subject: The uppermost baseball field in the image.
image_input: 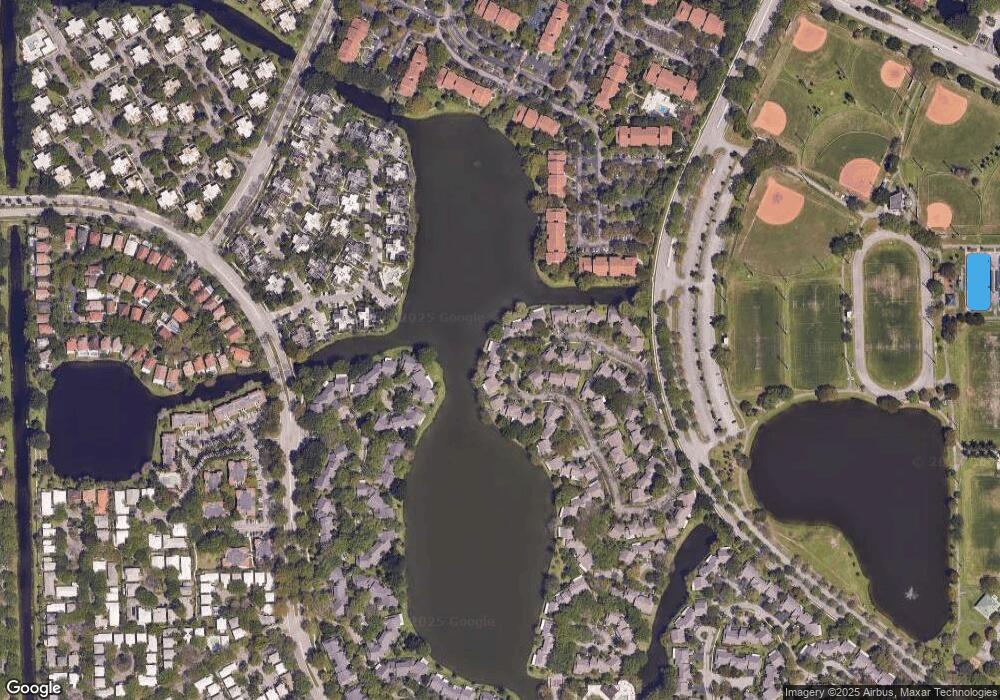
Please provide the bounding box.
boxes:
[782,8,852,70]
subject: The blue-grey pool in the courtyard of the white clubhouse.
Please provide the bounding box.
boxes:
[24,36,41,53]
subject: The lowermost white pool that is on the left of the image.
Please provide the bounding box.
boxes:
[208,636,221,652]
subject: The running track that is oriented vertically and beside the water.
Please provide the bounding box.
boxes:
[854,229,932,396]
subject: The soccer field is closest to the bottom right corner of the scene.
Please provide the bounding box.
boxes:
[972,474,1000,580]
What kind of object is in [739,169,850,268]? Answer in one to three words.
baseball field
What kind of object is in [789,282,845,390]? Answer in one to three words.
soccer field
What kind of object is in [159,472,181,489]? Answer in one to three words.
swimming pool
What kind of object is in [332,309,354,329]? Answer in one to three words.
house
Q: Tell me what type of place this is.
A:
residential area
